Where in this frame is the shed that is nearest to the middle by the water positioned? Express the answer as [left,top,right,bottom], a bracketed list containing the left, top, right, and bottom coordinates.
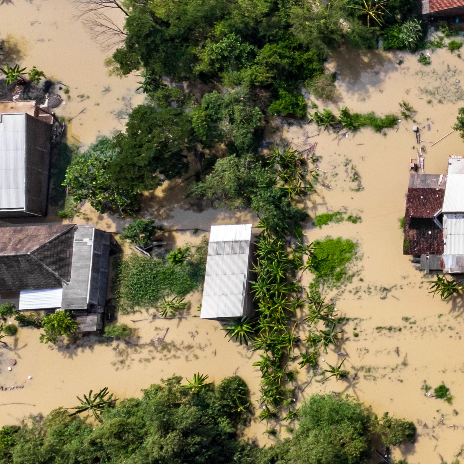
[201,224,264,319]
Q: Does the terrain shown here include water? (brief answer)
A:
Yes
